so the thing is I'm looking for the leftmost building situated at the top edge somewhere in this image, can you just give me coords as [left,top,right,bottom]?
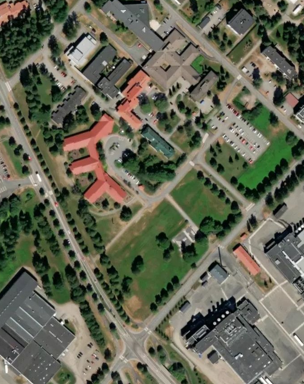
[0,0,20,24]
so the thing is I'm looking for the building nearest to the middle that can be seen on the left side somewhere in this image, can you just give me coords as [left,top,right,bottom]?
[105,177,128,203]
